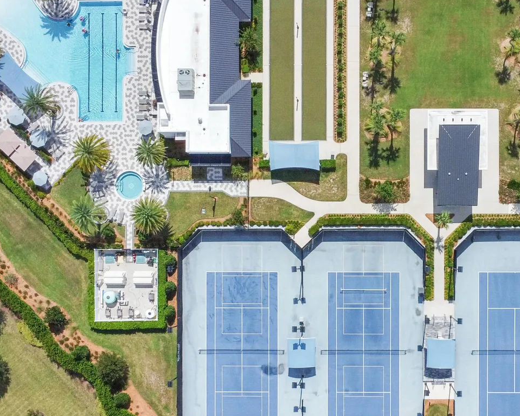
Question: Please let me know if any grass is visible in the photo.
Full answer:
Yes, there is grass in the image.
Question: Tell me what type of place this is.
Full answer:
What you see here is a sports ground.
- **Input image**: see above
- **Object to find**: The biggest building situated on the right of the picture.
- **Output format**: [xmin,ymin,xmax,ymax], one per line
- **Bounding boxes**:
[427,110,487,205]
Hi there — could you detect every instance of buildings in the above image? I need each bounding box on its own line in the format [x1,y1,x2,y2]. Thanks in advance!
[150,0,252,168]
[427,110,487,205]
